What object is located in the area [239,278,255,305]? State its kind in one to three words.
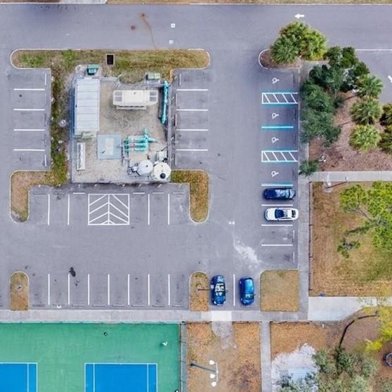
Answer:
car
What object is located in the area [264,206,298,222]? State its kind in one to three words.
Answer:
car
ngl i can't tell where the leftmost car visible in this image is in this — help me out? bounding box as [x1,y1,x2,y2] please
[211,276,226,306]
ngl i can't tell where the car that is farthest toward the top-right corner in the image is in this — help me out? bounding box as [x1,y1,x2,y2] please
[262,187,294,202]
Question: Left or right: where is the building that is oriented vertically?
left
